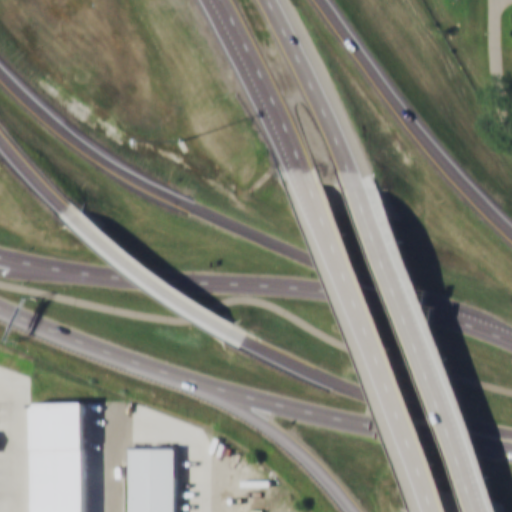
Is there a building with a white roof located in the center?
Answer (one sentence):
No, the scene shows no building with a white roof in the center.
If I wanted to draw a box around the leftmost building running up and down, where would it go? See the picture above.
[28,402,82,512]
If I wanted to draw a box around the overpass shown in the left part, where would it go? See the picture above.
[60,202,248,348]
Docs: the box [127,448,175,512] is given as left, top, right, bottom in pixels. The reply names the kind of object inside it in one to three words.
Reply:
building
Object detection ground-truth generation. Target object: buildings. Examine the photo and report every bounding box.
[127,448,175,512]
[28,402,82,512]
